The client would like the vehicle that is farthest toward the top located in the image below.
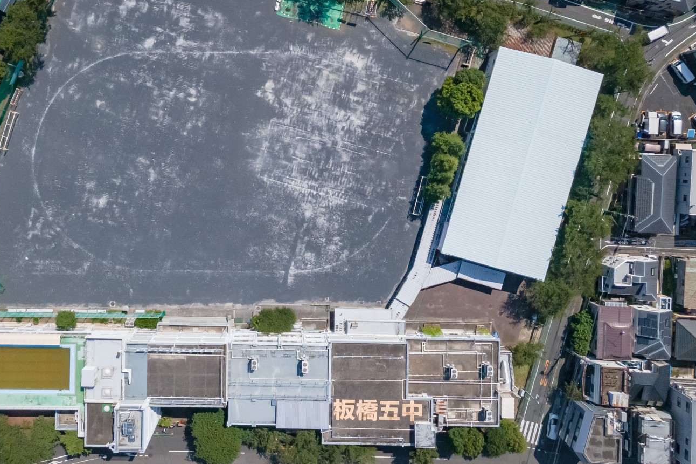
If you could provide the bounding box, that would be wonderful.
[645,22,670,40]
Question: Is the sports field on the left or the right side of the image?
left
